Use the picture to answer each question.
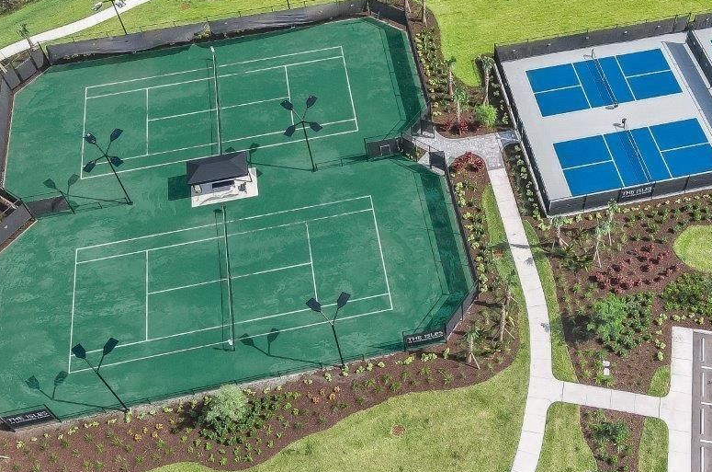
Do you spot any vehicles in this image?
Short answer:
No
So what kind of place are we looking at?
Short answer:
sports ground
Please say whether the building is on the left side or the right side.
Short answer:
left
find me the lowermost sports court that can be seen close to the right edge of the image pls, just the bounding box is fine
[552,117,712,196]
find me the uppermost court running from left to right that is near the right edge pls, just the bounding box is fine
[525,48,684,117]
